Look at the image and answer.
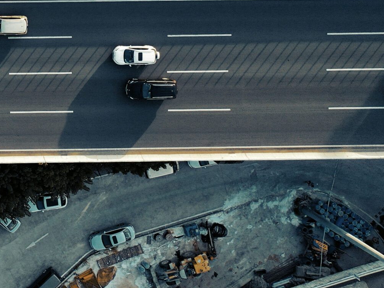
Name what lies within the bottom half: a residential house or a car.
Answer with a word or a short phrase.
car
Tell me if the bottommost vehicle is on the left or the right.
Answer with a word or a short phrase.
left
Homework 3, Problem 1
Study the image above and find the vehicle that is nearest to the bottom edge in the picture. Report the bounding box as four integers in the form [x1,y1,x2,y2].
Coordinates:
[19,263,61,288]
